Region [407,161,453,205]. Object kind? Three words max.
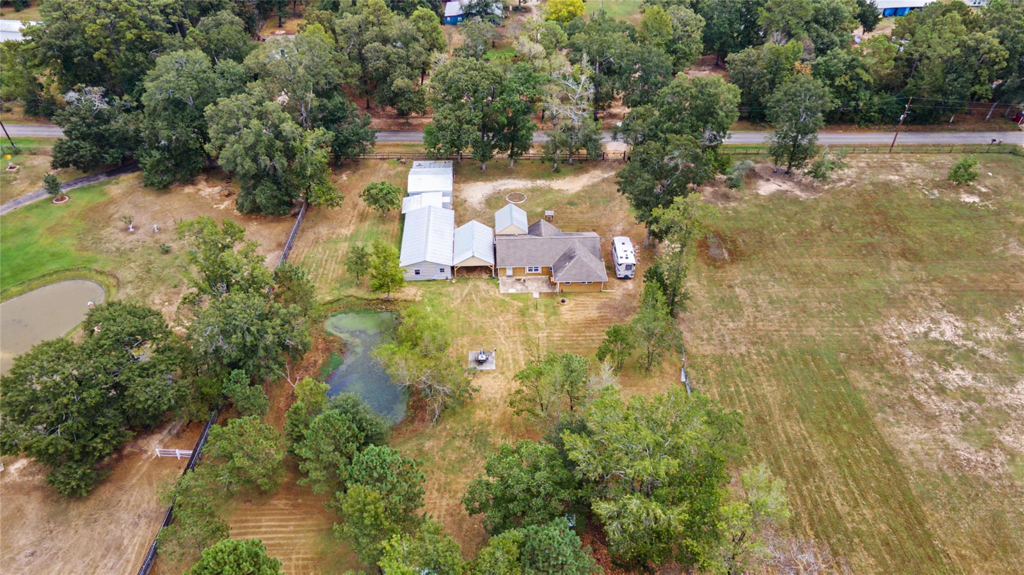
shed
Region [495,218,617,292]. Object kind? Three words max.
house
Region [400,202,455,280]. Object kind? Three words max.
barn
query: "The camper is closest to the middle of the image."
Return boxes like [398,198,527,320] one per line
[612,239,635,281]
